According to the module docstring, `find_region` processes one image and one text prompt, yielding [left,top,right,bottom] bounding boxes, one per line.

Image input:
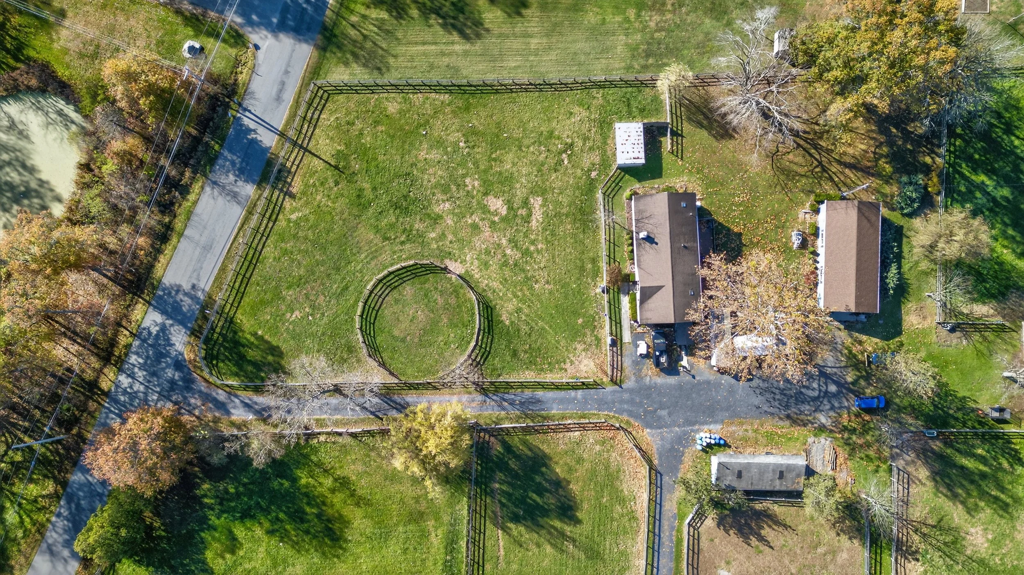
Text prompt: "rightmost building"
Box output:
[816,199,882,313]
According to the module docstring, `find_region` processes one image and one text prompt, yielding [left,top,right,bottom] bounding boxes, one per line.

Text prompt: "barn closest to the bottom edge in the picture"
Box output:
[712,451,808,492]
